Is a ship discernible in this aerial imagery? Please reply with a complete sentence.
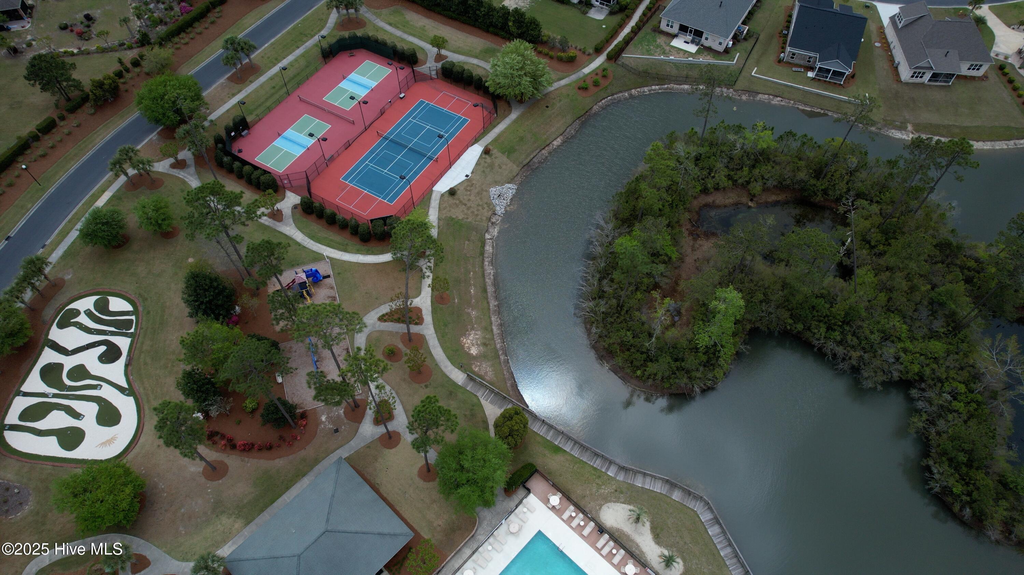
No, I find no ship anywhere in the image.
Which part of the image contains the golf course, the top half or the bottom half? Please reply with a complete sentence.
Seen from above, the golf course lies in the bottom half of the view.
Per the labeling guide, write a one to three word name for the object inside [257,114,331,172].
sports court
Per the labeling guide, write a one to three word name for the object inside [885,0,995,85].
house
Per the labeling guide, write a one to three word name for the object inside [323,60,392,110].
sports court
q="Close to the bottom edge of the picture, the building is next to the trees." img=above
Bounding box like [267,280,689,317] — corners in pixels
[227,456,415,575]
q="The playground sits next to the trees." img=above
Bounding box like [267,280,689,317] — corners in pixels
[274,267,330,299]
